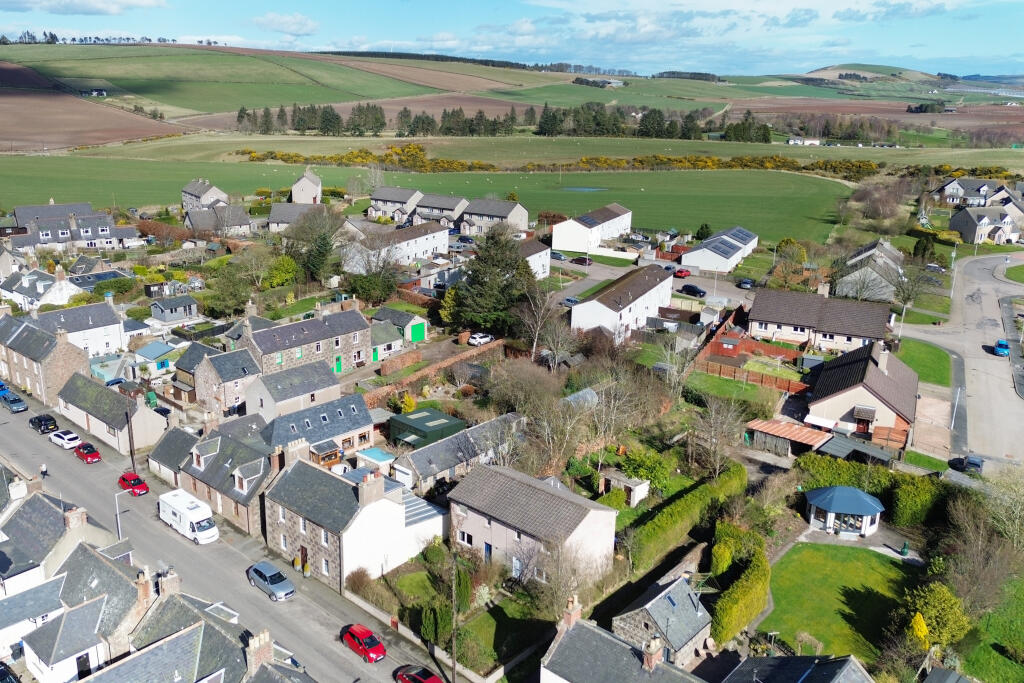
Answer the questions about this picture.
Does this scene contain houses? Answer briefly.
Yes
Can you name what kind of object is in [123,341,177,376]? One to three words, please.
building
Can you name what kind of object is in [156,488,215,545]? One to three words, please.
camper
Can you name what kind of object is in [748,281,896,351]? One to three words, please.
house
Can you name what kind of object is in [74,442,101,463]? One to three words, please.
car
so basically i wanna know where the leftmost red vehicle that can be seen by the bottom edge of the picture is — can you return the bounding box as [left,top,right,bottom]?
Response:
[339,623,385,662]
